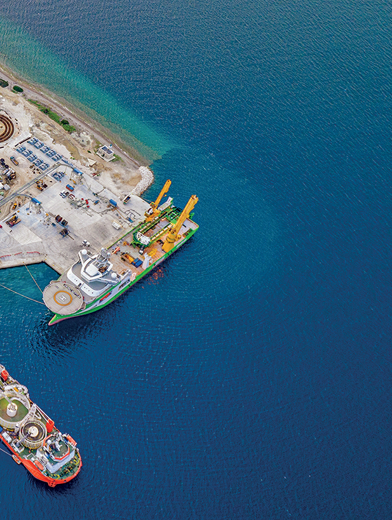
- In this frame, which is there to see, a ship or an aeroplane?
ship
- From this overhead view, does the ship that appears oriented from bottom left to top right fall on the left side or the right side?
left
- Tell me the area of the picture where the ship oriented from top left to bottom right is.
bottom left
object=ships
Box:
[43,181,200,324]
[0,366,85,482]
